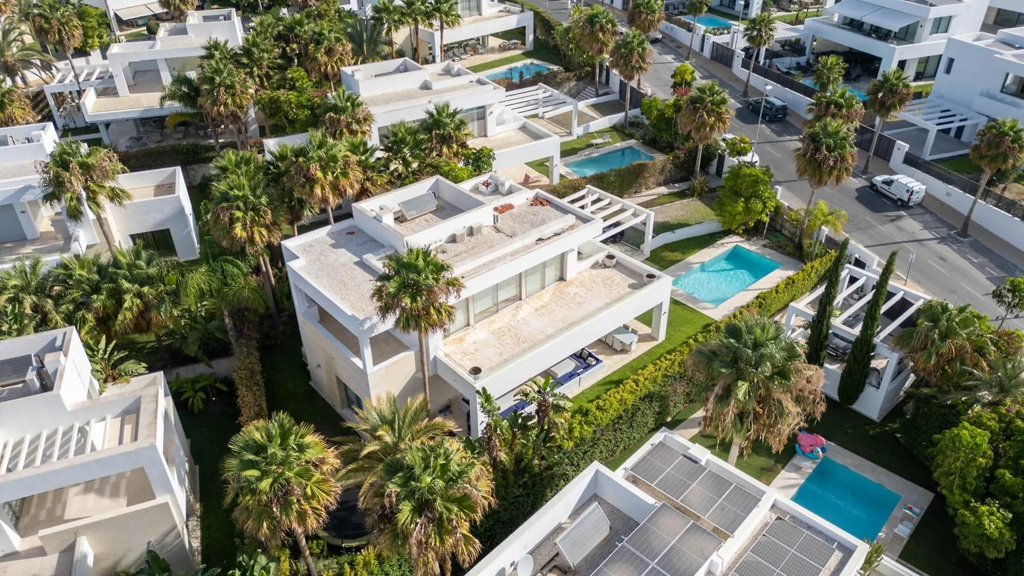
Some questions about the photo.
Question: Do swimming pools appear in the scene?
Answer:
Yes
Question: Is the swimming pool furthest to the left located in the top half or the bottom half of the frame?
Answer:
top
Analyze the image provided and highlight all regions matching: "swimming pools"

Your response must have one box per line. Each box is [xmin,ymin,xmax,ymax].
[661,233,806,317]
[557,140,648,179]
[772,434,936,553]
[473,58,572,82]
[673,11,742,29]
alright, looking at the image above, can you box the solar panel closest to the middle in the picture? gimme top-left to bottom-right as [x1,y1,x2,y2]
[398,188,441,221]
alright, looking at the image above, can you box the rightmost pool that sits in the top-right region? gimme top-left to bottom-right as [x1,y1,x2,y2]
[785,71,867,105]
